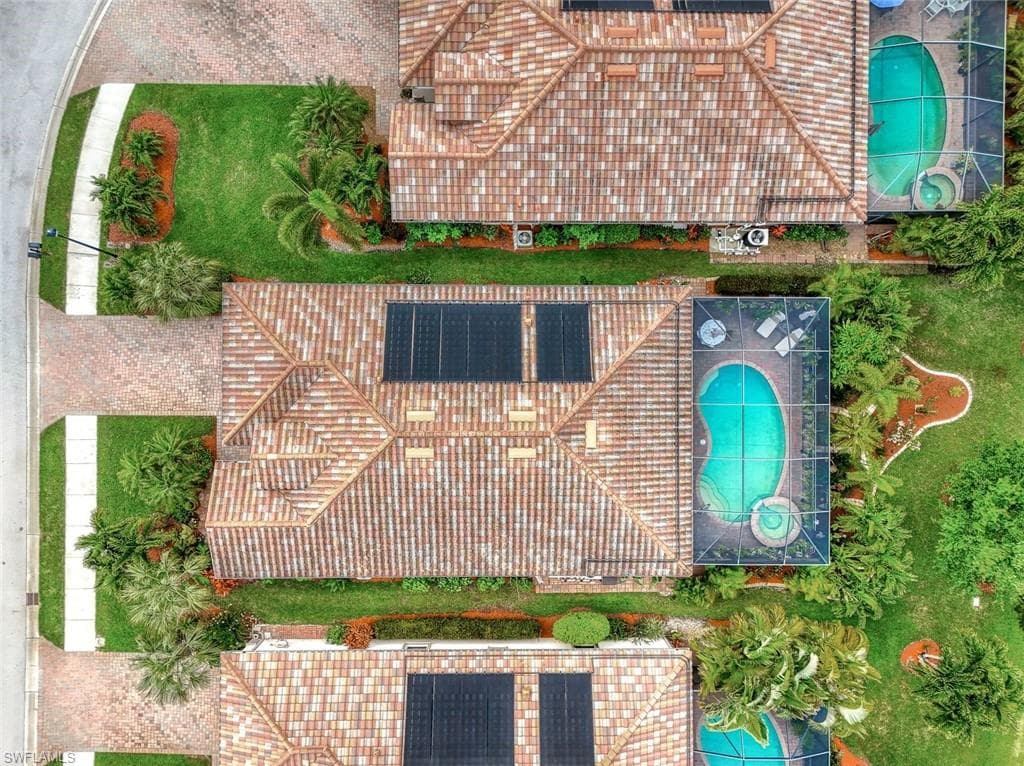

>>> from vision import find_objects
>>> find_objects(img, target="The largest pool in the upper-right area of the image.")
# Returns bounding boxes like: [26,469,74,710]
[868,31,953,201]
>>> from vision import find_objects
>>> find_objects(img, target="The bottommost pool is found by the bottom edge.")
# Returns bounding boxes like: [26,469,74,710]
[693,707,789,766]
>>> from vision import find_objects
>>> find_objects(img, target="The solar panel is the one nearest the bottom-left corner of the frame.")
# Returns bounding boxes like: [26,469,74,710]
[401,672,516,766]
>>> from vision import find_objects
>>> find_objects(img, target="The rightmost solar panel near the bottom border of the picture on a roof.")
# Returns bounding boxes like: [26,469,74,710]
[534,672,597,766]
